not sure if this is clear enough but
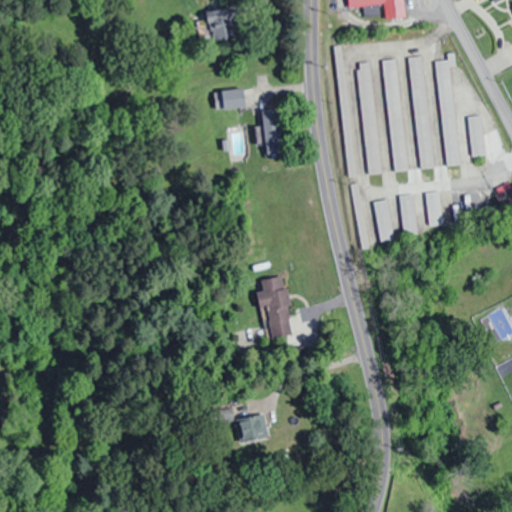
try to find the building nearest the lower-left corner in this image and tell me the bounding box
[238,412,272,446]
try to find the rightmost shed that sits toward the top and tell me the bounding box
[468,114,485,156]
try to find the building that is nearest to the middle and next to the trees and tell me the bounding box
[258,277,294,337]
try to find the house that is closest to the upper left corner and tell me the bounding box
[197,8,236,40]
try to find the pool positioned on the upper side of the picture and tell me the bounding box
[227,126,246,164]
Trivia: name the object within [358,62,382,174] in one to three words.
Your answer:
shed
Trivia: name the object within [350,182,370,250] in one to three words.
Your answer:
shed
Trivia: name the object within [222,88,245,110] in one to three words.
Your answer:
building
